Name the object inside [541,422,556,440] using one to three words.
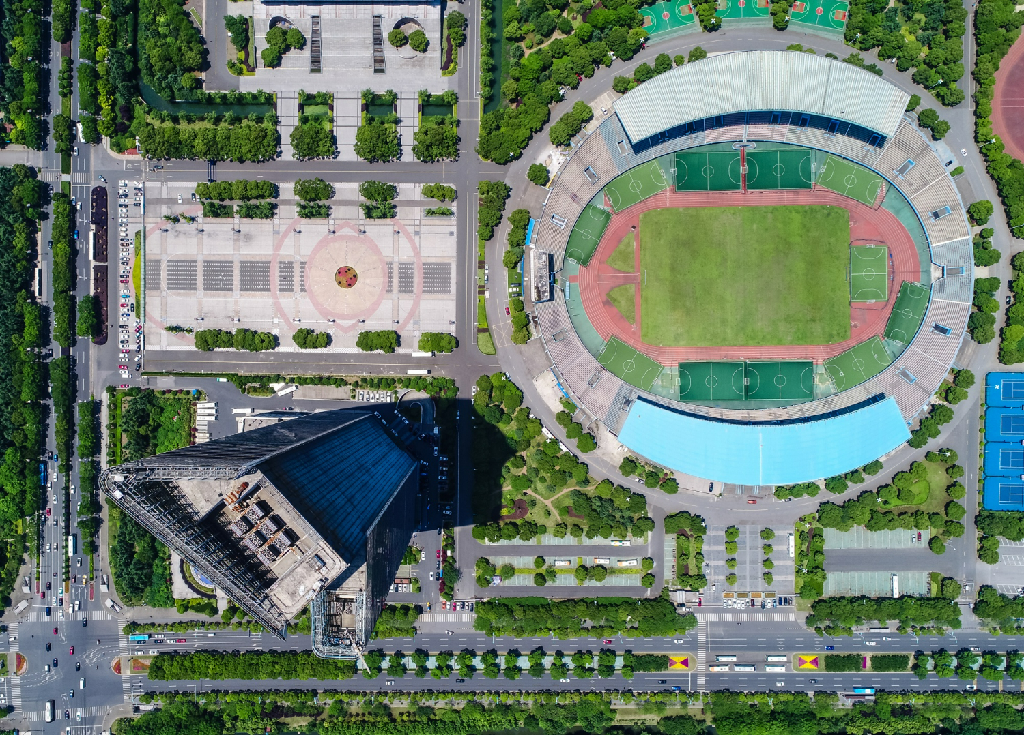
vehicle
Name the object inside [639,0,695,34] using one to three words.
basketball court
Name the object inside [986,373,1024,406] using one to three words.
tennis court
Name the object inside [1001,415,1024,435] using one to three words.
tennis court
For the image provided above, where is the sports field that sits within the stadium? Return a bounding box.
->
[640,206,851,347]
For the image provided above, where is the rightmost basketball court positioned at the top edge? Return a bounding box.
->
[790,0,848,29]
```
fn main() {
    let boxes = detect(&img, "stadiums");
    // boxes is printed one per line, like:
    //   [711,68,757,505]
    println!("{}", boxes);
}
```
[534,49,976,486]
